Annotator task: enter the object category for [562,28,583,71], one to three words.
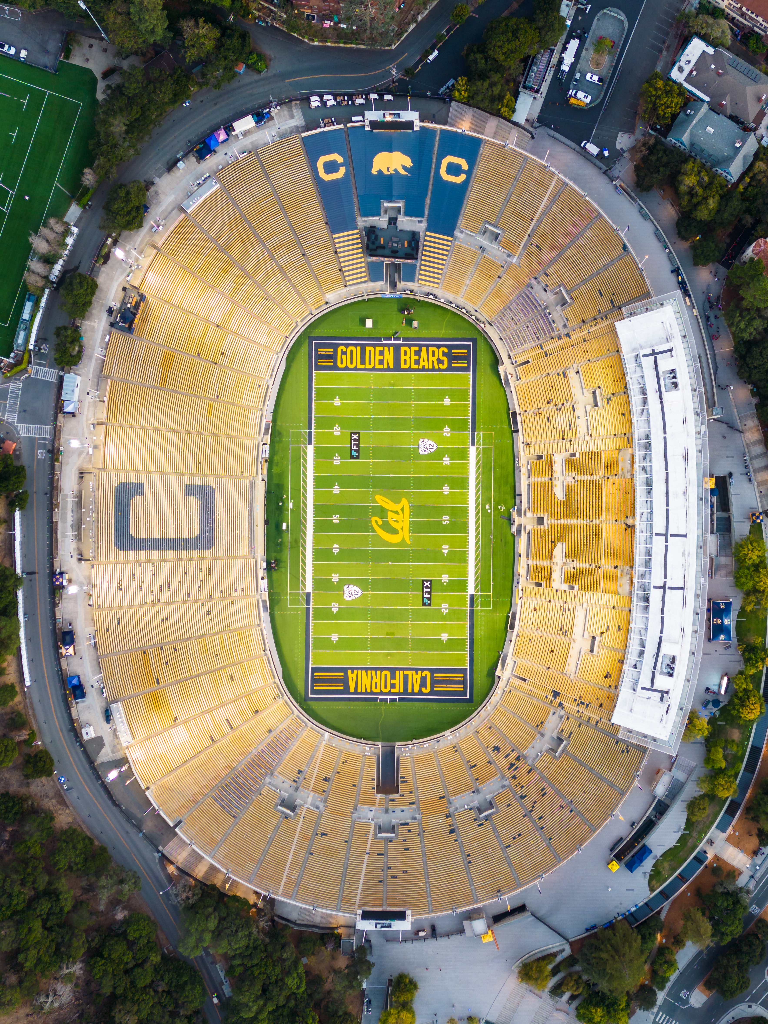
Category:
truck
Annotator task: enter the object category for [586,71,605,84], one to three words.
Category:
vehicle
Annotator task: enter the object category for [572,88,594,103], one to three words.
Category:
vehicle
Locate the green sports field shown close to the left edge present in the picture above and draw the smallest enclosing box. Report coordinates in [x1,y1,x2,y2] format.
[0,57,99,358]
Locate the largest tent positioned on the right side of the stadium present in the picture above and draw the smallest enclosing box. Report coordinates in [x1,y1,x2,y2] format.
[708,600,732,641]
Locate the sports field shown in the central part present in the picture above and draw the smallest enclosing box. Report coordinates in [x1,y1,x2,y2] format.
[265,297,516,740]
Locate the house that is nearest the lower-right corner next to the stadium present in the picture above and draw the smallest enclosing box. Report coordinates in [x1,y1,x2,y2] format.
[648,767,675,800]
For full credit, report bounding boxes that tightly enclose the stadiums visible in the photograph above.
[53,99,655,920]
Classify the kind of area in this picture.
sports ground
